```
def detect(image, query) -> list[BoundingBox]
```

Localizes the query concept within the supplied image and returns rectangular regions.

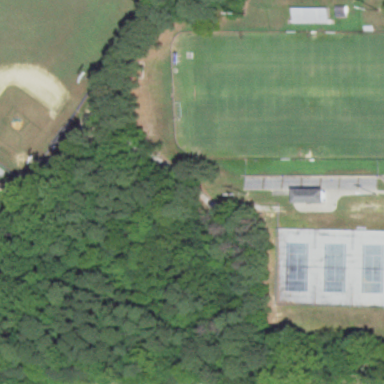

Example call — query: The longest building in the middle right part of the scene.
[288,188,324,204]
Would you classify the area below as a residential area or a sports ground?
sports ground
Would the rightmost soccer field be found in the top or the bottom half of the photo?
top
